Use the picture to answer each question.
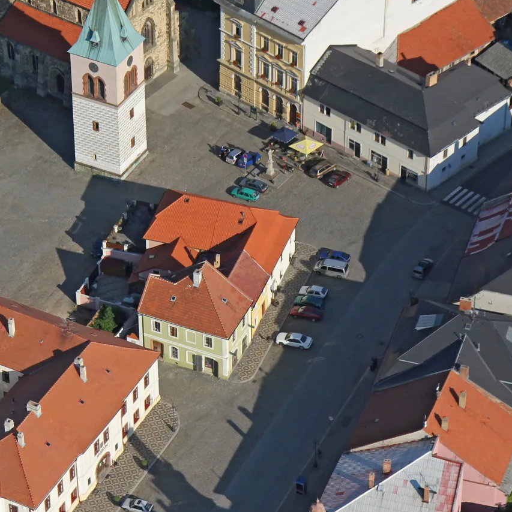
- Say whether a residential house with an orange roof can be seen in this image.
Yes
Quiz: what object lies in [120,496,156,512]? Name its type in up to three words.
car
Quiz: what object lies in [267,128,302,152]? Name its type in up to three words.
umbrella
